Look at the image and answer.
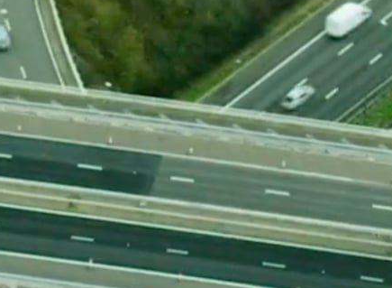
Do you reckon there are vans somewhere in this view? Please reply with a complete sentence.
Yes, the image includes a van.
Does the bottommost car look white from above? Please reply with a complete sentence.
Yes, the bottommost car is indeed white.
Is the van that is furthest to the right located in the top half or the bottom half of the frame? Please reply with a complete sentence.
It is in the top half that the van that is furthest to the right appears.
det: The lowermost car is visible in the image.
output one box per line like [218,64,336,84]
[280,85,314,110]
